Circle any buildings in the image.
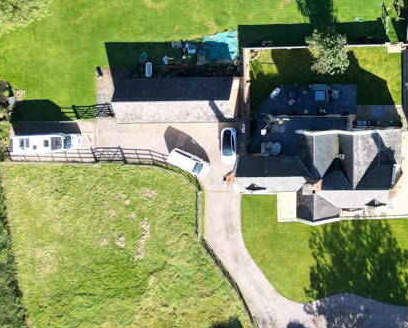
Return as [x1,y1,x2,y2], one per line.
[100,76,245,122]
[222,131,407,223]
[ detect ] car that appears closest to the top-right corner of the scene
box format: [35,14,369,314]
[220,128,239,163]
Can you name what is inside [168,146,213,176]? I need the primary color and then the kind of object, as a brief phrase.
white van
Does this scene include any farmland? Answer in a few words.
Yes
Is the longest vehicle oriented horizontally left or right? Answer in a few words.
left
